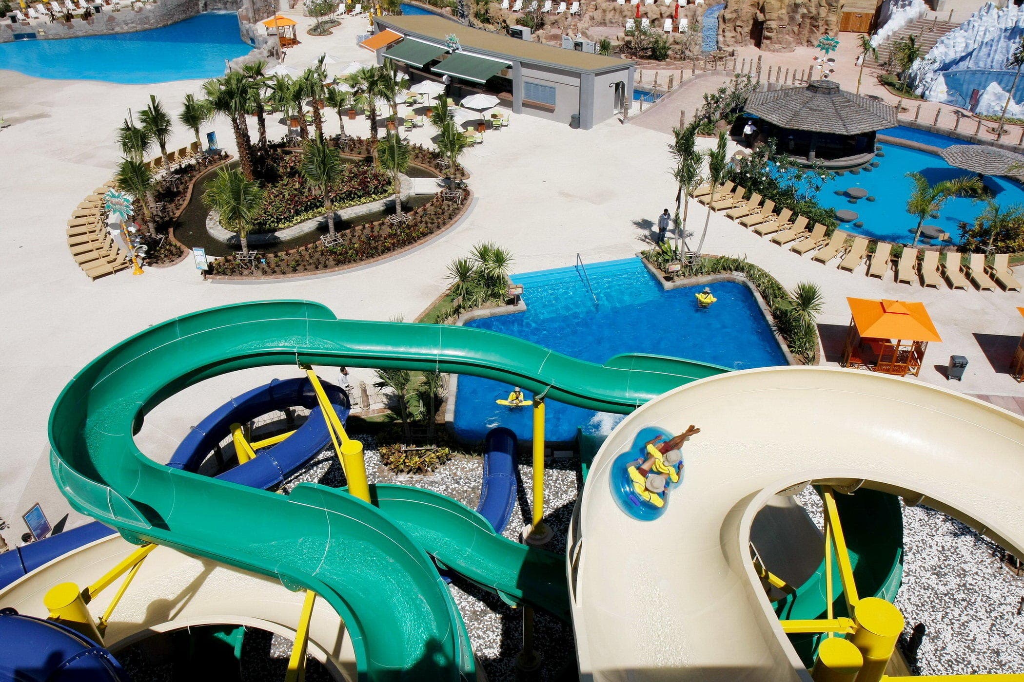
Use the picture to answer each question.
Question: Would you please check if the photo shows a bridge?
Yes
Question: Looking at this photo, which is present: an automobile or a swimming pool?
swimming pool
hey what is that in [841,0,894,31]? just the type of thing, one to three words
building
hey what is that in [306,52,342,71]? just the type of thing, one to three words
umbrella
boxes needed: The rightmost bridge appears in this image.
[620,69,775,137]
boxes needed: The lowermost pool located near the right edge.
[734,129,1024,246]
